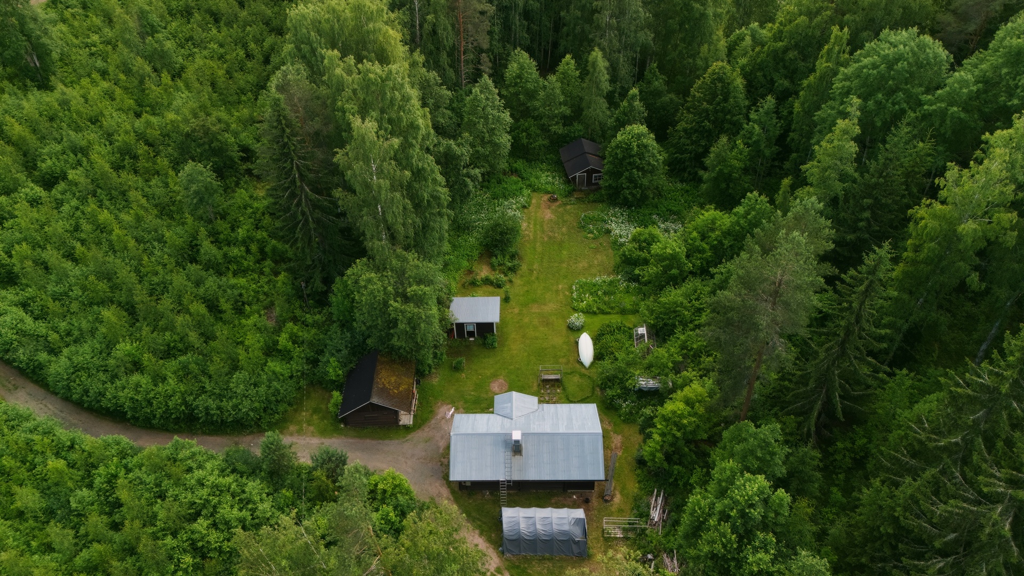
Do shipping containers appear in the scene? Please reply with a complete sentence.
No, no shipping container is visible in the view.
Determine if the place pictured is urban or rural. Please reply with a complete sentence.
The area is rural.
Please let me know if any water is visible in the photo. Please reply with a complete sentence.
No, the picture contains no water.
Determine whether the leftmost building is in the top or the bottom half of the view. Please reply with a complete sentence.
You can find the leftmost building in the bottom half.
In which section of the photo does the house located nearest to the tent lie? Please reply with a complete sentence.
The house located nearest to the tent appears toward the bottom of the photo.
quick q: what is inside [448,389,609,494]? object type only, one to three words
house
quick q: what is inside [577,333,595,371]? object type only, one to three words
boat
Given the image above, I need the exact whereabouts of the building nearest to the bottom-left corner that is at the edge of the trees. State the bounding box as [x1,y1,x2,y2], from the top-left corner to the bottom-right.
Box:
[337,343,417,425]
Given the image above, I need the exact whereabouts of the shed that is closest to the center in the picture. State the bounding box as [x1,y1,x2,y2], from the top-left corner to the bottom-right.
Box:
[451,296,500,342]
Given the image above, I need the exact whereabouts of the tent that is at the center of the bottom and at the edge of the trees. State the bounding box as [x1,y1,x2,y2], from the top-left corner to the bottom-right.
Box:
[498,508,588,555]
